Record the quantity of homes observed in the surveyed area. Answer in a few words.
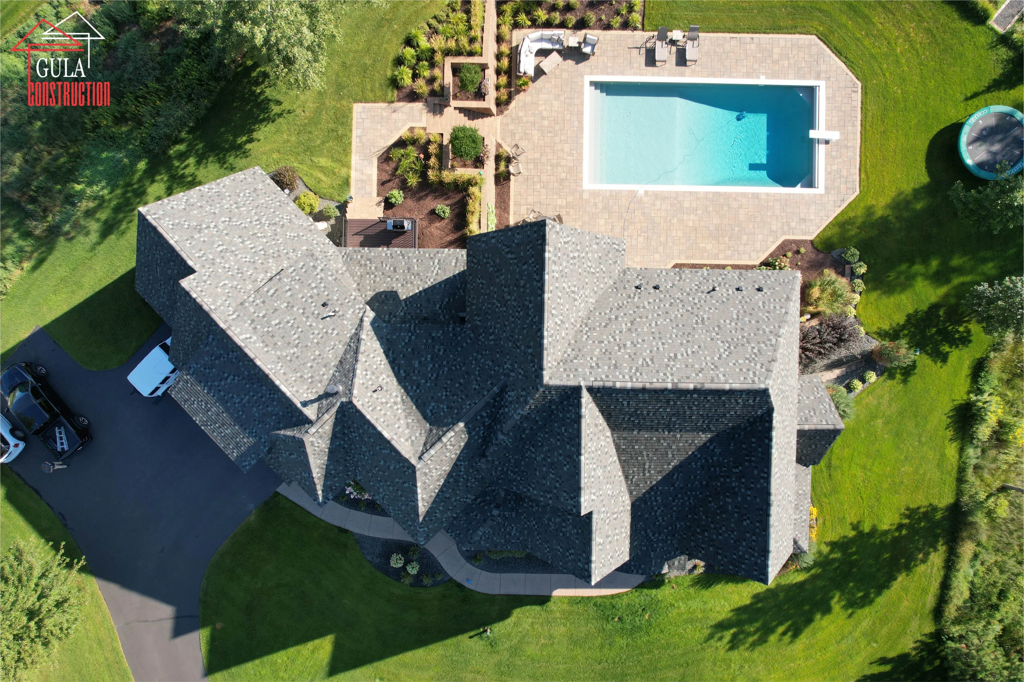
one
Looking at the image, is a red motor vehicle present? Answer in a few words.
No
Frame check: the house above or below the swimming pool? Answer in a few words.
below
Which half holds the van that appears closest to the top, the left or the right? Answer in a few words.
left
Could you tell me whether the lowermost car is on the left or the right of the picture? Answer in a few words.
left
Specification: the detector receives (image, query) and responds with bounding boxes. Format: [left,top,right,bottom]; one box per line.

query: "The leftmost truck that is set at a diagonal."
[0,354,96,460]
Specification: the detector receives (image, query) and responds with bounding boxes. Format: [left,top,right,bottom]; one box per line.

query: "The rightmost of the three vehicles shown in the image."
[121,327,181,402]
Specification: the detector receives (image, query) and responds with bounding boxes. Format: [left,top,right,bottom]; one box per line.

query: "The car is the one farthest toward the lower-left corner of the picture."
[0,412,29,469]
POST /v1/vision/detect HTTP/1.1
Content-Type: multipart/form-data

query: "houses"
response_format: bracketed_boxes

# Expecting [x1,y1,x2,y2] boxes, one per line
[135,166,844,586]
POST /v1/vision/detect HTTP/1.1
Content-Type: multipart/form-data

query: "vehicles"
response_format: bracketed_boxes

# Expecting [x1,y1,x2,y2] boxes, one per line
[121,327,181,402]
[0,354,96,460]
[0,412,29,469]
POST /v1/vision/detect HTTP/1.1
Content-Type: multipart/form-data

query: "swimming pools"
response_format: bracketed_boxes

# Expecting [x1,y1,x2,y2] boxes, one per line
[583,69,826,199]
